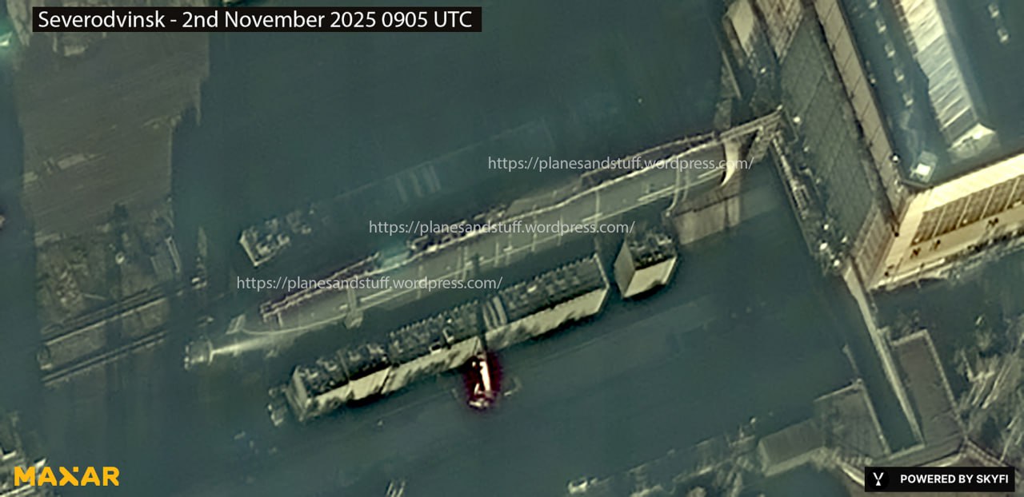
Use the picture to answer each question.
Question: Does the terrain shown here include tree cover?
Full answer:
No, no tree cover is visible.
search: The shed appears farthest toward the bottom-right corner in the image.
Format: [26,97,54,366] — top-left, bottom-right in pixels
[756,417,831,475]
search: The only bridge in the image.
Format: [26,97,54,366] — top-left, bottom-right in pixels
[723,112,784,147]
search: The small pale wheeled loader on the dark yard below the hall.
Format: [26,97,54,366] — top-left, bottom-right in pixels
[972,311,988,330]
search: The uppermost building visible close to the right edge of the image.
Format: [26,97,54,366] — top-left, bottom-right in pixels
[752,0,1024,291]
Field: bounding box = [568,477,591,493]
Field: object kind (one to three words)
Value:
boat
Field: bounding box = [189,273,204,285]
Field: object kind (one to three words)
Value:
boat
